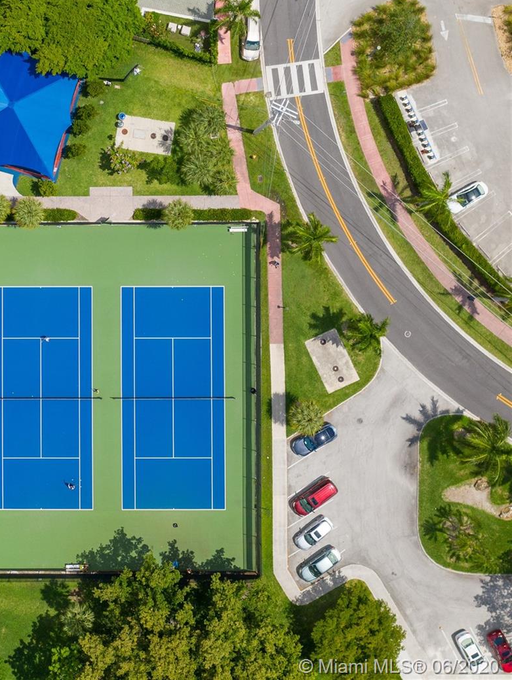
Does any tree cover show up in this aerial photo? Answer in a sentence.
Yes, tree cover shows up in the scene.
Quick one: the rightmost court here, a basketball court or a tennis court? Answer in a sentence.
I'd say the rightmost court is a tennis court.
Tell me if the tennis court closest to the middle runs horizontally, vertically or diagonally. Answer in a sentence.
Seen from above, the tennis court closest to the middle lies vertically.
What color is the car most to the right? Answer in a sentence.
The car most to the right looks red in the image.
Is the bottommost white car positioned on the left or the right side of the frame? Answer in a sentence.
You can find the bottommost white car on the right side of the picture.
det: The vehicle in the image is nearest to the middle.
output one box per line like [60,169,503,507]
[290,425,339,458]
